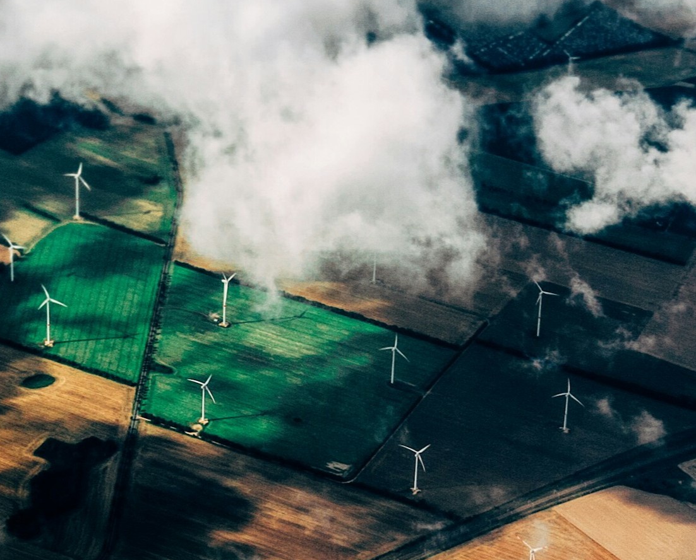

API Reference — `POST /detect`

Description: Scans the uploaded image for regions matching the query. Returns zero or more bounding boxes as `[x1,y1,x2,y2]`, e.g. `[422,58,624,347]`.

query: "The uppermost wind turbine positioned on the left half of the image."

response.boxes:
[60,163,84,218]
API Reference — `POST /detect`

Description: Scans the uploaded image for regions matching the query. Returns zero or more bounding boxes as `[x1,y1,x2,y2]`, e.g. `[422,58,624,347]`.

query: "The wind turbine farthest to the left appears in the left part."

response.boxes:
[0,234,26,280]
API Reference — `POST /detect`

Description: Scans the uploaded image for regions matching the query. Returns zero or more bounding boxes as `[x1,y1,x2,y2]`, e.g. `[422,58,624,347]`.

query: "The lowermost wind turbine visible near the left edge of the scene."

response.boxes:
[34,283,62,343]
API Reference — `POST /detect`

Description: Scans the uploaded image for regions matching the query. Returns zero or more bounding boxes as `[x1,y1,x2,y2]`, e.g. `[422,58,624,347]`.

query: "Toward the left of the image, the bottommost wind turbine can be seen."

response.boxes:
[186,376,211,417]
